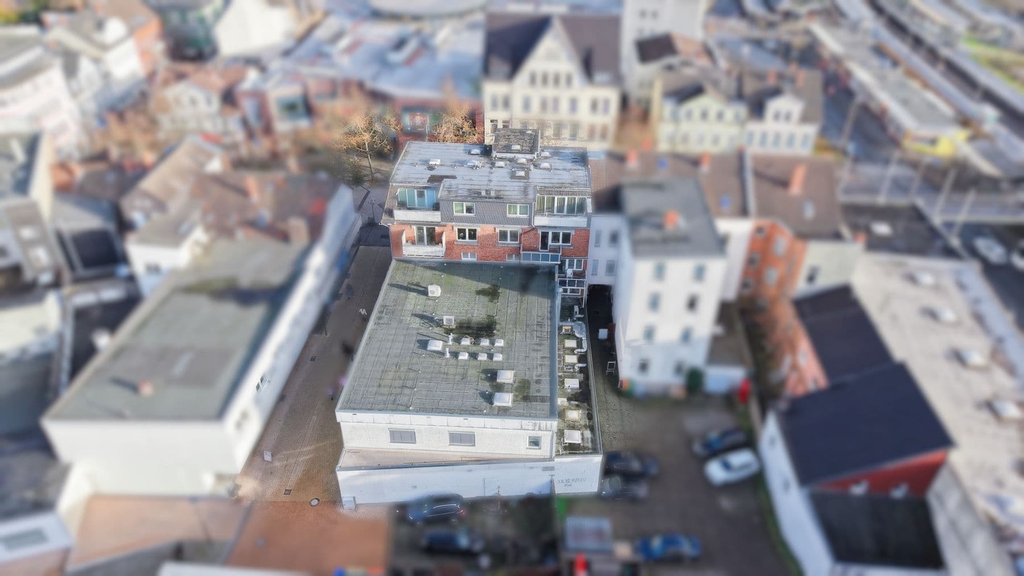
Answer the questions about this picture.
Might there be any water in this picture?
No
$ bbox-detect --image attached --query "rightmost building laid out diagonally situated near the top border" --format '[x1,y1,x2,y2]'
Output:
[810,23,963,176]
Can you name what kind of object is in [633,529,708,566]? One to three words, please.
car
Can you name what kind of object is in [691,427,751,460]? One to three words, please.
car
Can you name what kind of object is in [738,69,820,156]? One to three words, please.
house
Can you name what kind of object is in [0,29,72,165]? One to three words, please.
building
